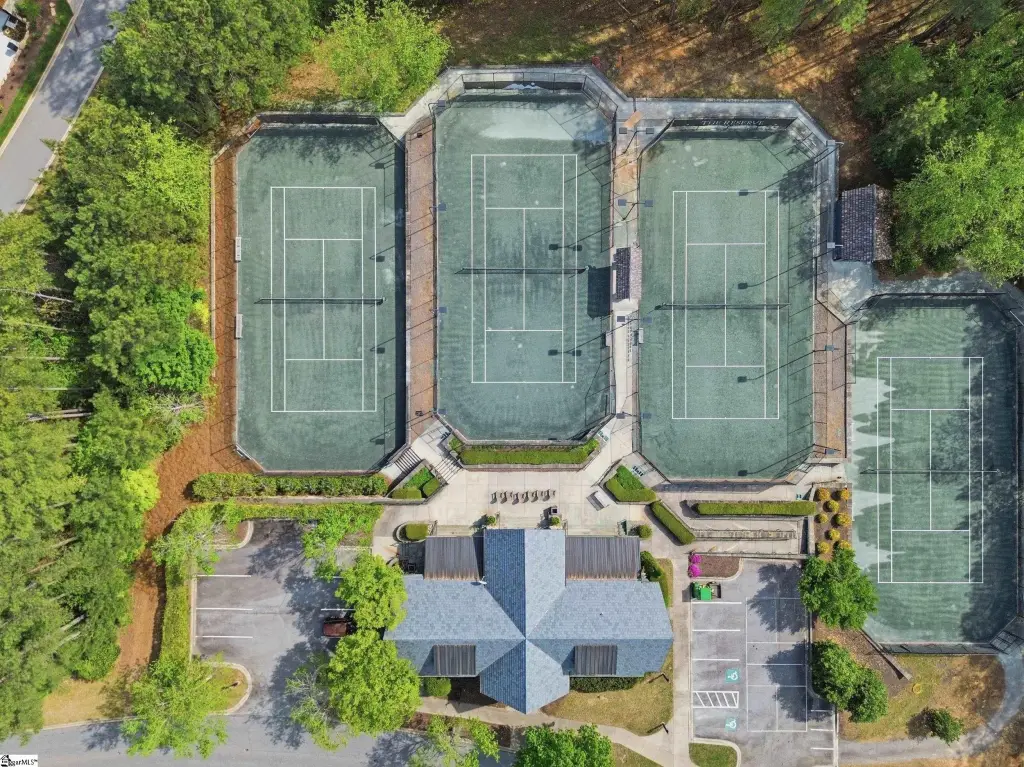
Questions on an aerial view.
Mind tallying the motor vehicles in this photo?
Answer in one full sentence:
The number of motor vehicles here is 2.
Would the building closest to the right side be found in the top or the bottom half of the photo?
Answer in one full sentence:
You can find the building closest to the right side in the top half.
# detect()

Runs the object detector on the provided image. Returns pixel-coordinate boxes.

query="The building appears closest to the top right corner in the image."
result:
[837,186,890,265]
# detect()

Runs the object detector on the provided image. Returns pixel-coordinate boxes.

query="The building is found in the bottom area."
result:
[383,529,672,713]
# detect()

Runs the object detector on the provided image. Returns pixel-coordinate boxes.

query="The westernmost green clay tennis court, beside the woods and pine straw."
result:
[236,126,404,471]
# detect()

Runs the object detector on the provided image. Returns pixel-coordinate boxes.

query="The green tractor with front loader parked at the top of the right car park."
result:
[690,581,720,602]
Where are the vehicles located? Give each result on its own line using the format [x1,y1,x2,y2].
[690,581,720,602]
[321,620,365,643]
